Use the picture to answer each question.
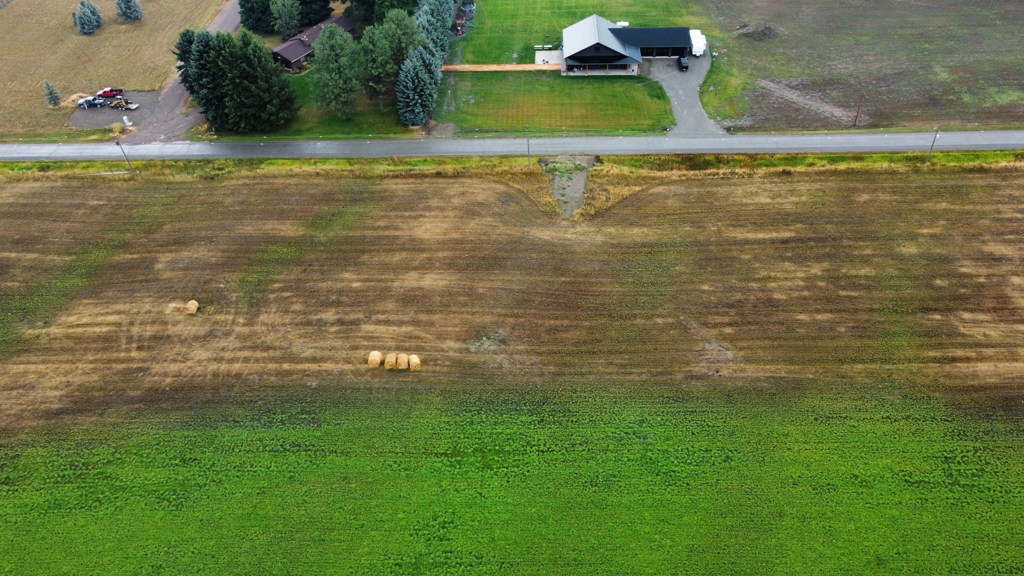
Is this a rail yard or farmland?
farmland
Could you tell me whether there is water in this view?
No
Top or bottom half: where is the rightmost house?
top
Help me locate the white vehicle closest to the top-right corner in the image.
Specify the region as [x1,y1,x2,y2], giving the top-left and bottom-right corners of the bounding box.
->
[689,30,707,59]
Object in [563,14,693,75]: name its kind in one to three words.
house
